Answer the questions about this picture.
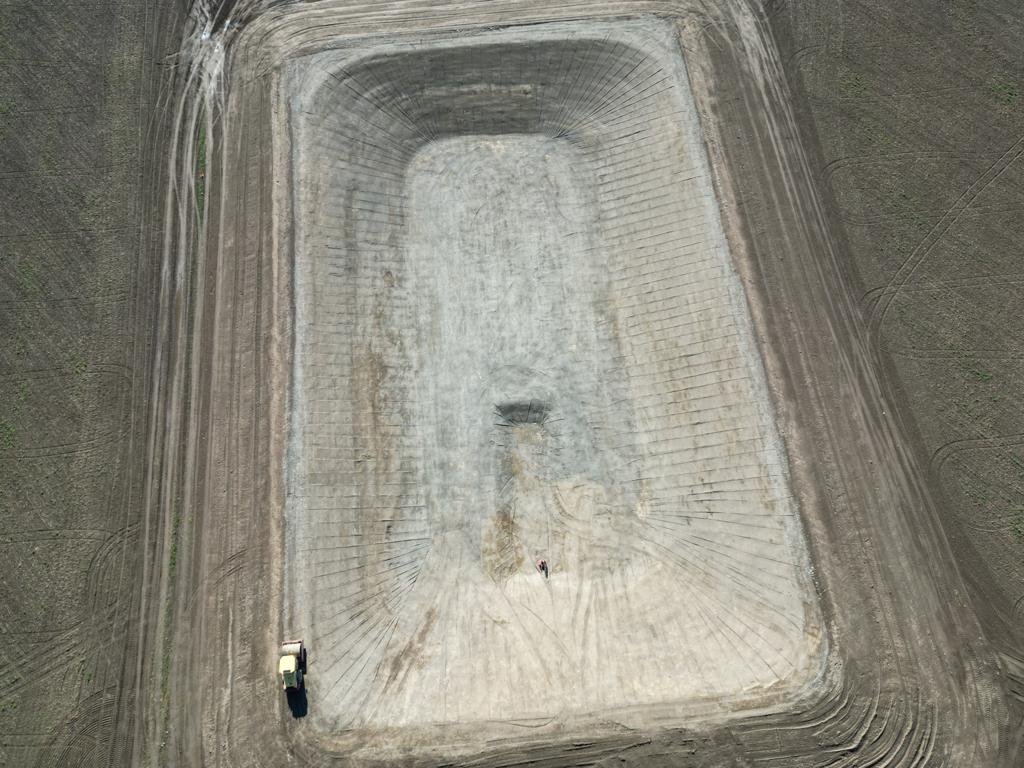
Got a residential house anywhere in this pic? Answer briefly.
No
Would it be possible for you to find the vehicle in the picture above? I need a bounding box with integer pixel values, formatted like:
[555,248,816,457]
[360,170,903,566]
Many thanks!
[278,641,305,690]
